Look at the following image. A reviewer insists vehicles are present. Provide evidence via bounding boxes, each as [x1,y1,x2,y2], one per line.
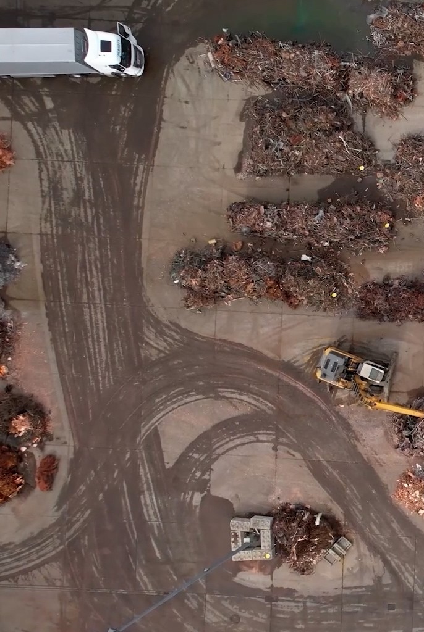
[0,22,145,76]
[314,343,424,420]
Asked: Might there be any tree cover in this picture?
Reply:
No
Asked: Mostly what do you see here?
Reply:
paved ground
